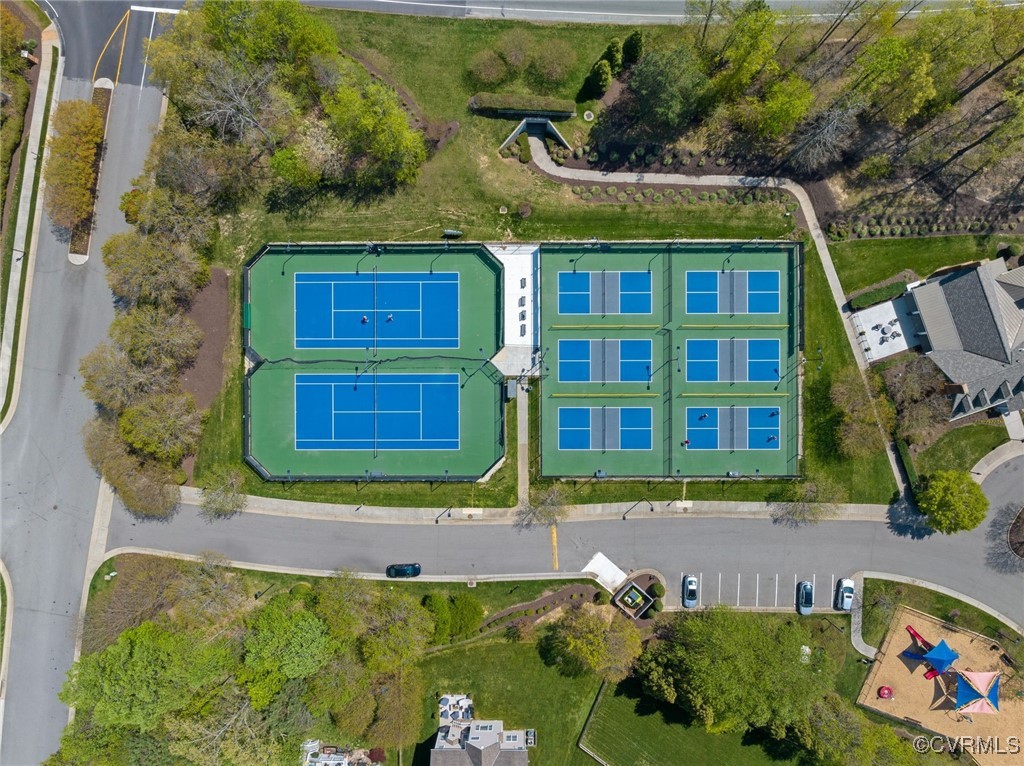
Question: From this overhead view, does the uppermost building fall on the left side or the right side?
right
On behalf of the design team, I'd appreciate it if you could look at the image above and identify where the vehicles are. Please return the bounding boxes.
[386,563,420,580]
[838,579,857,613]
[799,581,817,616]
[685,576,700,609]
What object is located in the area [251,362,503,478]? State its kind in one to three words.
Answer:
tennis court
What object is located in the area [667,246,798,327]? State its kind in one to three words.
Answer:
sports court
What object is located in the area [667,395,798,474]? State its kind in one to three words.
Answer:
sports court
